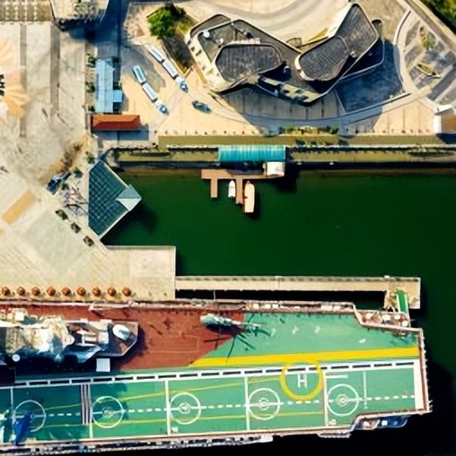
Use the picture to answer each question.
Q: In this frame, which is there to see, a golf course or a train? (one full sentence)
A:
It is a train that can be seen here.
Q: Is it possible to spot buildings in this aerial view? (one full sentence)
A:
Yes, a building can be made out from above.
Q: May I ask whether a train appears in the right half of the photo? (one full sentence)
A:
No, looking in the right half of the photo, there is no train.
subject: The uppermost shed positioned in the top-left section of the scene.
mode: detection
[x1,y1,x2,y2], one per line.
[95,57,123,112]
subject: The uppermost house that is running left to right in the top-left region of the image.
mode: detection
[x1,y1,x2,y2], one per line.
[91,114,140,132]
